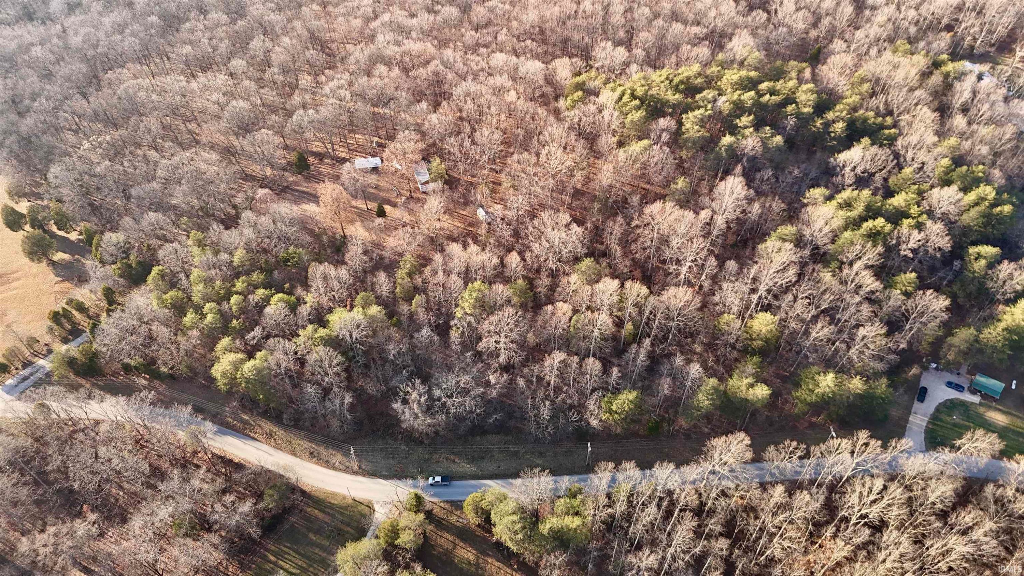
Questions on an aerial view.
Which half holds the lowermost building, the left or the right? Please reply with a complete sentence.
The lowermost building is on the right side of the image.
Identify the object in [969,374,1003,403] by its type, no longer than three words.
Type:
building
